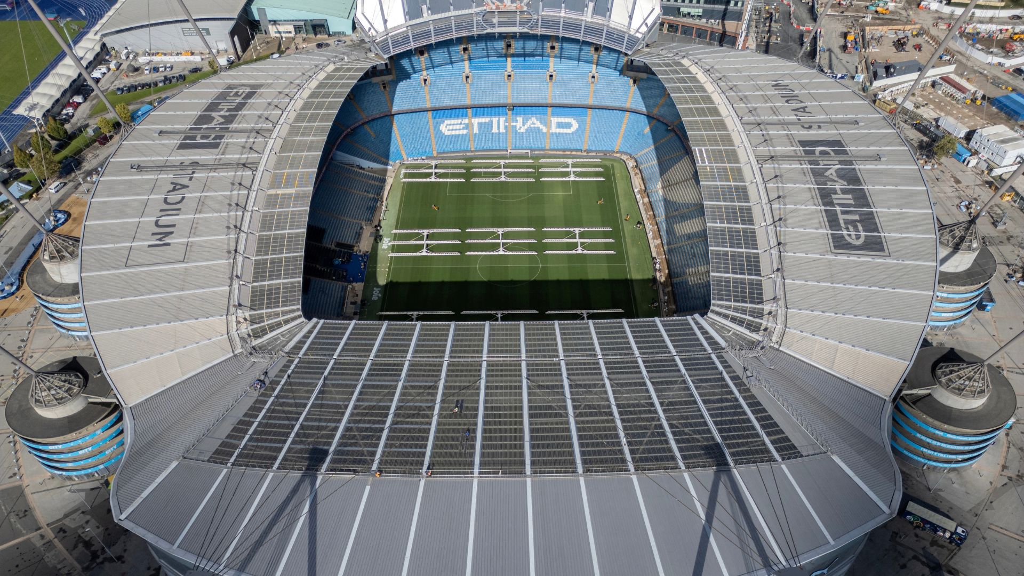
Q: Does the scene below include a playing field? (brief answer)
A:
Yes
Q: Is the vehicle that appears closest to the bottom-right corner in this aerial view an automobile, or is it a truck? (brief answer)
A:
truck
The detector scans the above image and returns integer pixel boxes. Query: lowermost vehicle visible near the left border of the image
[45,178,65,192]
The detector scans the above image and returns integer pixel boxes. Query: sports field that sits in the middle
[378,161,642,319]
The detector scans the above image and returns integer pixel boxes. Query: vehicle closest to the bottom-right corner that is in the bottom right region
[901,503,970,551]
